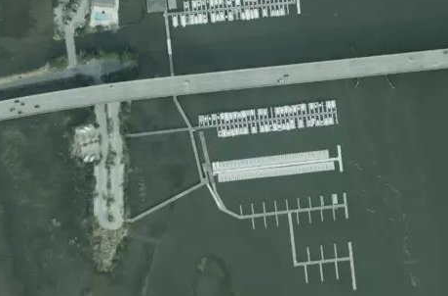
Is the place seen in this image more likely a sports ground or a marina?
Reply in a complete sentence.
What you see here is a marina.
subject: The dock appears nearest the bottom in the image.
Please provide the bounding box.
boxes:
[297,242,356,290]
